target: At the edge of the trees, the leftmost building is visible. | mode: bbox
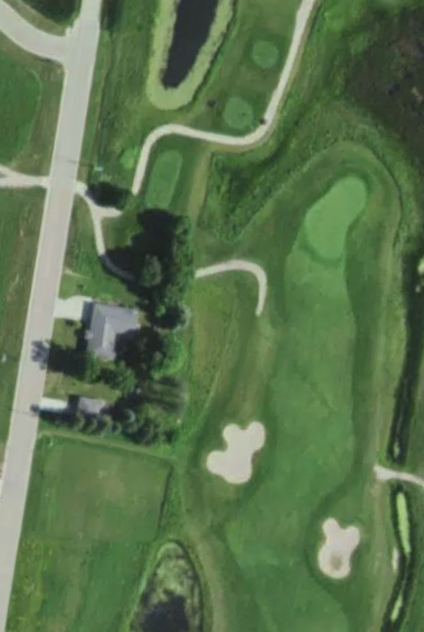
[76,398,105,416]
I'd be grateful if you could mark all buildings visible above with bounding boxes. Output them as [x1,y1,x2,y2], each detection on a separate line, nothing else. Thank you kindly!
[85,299,144,360]
[76,398,105,416]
